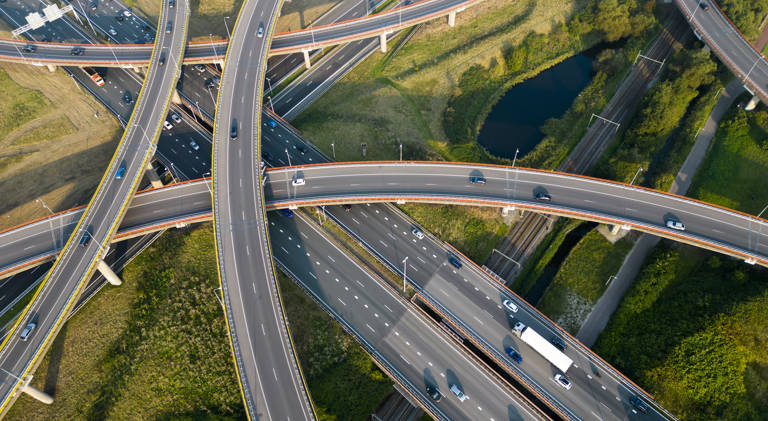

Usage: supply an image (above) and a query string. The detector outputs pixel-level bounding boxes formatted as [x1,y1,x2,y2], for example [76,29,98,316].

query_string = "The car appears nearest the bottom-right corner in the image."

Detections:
[628,395,648,413]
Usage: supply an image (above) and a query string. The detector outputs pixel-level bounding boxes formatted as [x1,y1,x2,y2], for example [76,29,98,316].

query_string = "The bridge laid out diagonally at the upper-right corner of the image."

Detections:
[674,0,768,106]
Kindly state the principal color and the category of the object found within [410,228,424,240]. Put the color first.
white vehicle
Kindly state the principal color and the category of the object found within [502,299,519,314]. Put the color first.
white car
